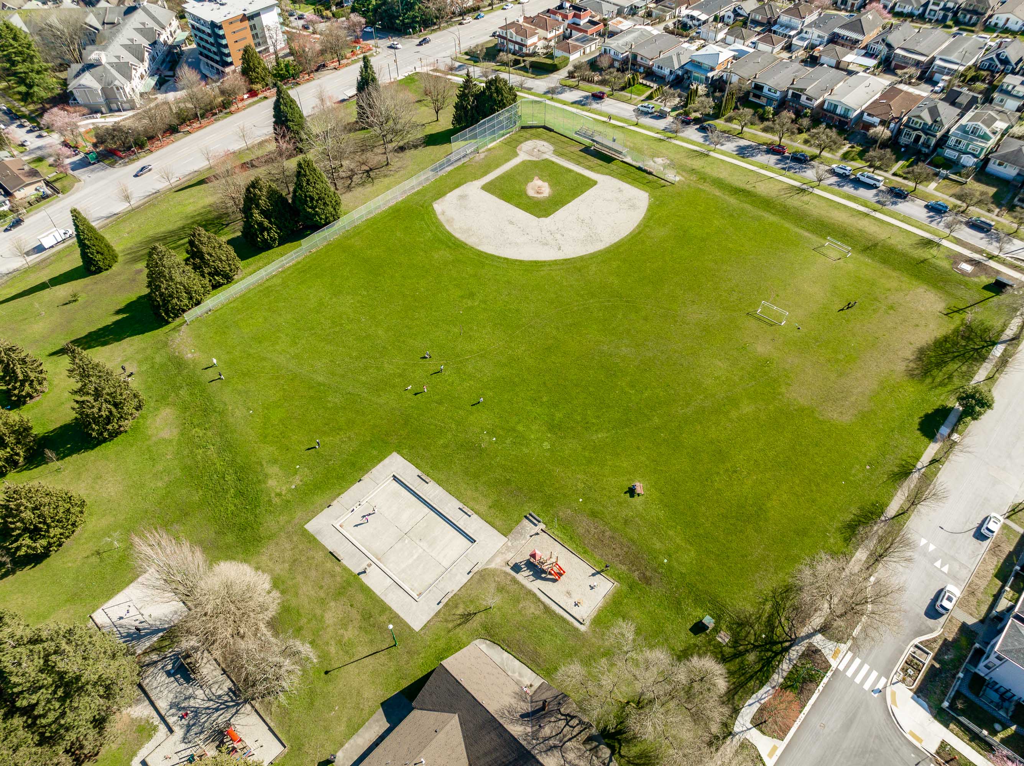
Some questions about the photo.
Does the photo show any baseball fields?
Yes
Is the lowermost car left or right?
right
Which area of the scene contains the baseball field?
top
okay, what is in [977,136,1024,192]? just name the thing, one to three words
house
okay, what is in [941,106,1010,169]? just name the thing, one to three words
house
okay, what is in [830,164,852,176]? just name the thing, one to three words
vehicle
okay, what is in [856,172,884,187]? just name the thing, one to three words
vehicle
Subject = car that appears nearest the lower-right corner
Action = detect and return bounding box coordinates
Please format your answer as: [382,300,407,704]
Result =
[930,589,964,615]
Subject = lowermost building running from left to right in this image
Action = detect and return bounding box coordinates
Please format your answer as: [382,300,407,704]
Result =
[359,641,621,766]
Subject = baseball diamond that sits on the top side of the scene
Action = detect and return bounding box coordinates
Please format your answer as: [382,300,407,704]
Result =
[432,141,649,262]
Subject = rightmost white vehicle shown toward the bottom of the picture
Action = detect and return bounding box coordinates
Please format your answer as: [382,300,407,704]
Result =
[977,514,1004,540]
